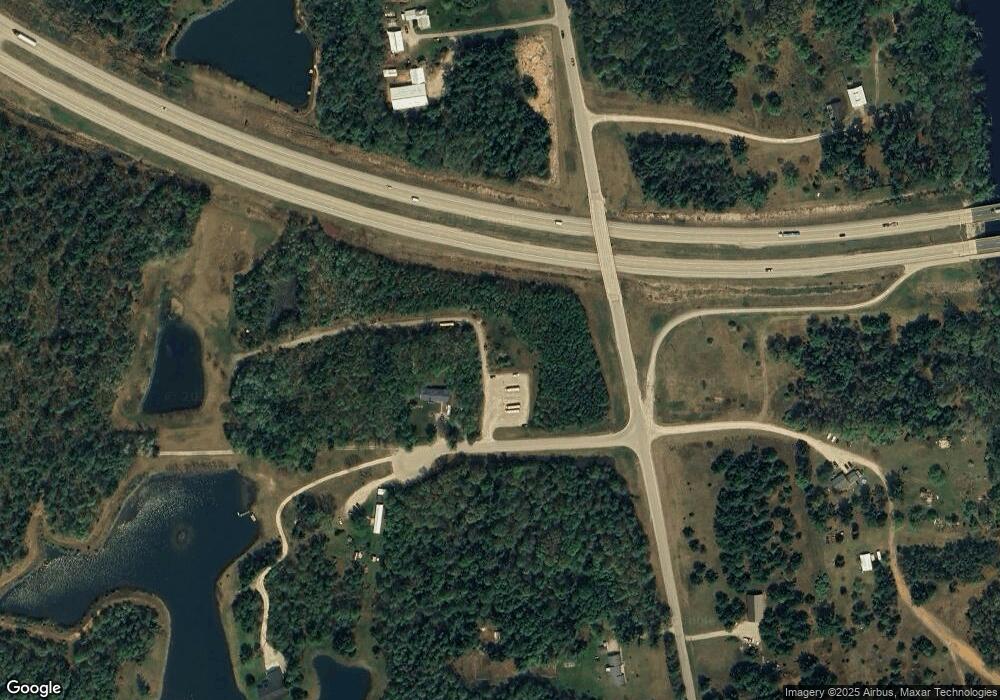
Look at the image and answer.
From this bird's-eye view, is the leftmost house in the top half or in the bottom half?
bottom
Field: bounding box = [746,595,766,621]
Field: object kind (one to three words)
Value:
barn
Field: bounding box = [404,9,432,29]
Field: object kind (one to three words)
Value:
house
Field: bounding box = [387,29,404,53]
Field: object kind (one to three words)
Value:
barn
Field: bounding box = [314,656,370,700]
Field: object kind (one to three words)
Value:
pond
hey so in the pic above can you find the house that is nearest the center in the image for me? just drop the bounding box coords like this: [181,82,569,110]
[421,388,449,401]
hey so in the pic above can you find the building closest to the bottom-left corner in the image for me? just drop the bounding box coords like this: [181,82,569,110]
[257,667,292,700]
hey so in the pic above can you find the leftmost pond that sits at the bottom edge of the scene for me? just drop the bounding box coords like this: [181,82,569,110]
[0,470,257,700]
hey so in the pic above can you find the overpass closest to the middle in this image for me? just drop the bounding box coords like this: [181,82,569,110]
[589,191,623,304]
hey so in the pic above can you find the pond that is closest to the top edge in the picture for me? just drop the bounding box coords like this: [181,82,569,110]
[174,0,312,108]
